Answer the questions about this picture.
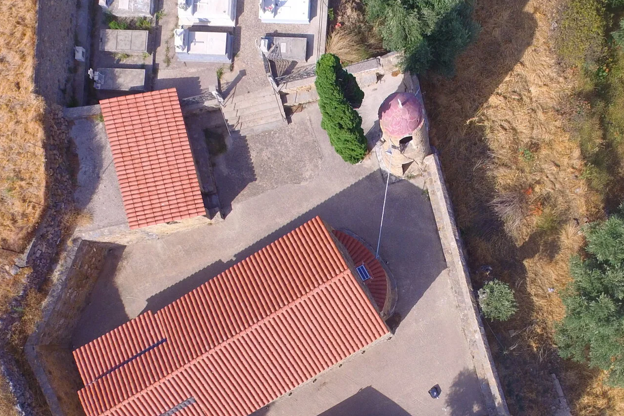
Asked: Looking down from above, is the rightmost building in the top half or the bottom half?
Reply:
top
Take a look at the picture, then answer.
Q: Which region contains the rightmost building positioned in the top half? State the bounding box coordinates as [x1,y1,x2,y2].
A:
[369,101,428,189]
